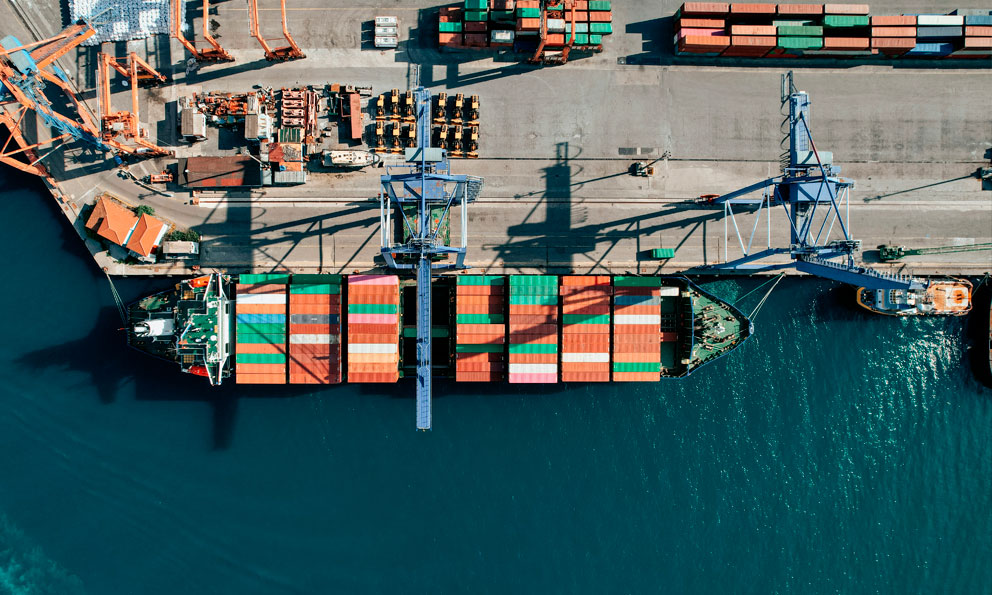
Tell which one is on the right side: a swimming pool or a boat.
boat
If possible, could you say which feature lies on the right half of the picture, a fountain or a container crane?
container crane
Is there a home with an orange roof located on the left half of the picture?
Yes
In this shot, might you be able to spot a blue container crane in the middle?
Yes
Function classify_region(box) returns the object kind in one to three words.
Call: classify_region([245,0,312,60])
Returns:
container crane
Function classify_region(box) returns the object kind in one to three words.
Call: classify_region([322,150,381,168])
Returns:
boat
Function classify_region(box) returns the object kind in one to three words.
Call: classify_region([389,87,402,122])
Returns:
vehicle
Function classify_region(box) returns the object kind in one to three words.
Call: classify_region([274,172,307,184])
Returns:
shed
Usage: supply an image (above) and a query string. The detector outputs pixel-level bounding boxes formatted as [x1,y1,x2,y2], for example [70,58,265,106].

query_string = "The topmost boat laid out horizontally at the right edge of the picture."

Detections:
[852,279,973,316]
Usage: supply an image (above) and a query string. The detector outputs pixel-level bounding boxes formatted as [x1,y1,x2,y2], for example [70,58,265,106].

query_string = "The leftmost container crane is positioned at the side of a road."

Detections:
[0,8,122,181]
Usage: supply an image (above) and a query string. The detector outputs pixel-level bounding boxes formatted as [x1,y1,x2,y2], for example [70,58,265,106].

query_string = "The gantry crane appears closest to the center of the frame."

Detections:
[377,57,480,432]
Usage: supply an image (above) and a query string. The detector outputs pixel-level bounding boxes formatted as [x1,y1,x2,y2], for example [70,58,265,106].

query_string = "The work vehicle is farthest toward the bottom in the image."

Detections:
[140,172,174,184]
